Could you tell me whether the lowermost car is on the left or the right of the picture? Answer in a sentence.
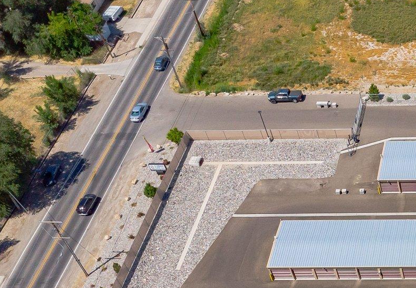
The lowermost car appears in the left half of the scene.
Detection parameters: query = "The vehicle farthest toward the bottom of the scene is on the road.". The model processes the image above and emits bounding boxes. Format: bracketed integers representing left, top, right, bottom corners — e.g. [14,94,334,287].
[75,193,97,213]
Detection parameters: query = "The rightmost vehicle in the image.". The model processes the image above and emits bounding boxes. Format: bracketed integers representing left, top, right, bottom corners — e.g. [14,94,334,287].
[267,89,301,104]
